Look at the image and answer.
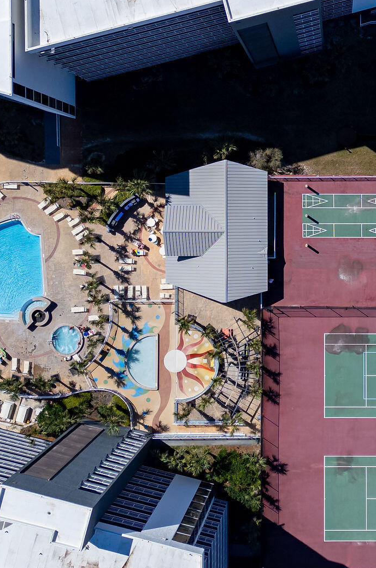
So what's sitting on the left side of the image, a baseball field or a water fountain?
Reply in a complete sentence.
You can see a water fountain on the left side of the image.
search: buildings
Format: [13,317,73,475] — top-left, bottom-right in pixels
[162,160,275,302]
[0,0,376,118]
[0,427,227,568]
